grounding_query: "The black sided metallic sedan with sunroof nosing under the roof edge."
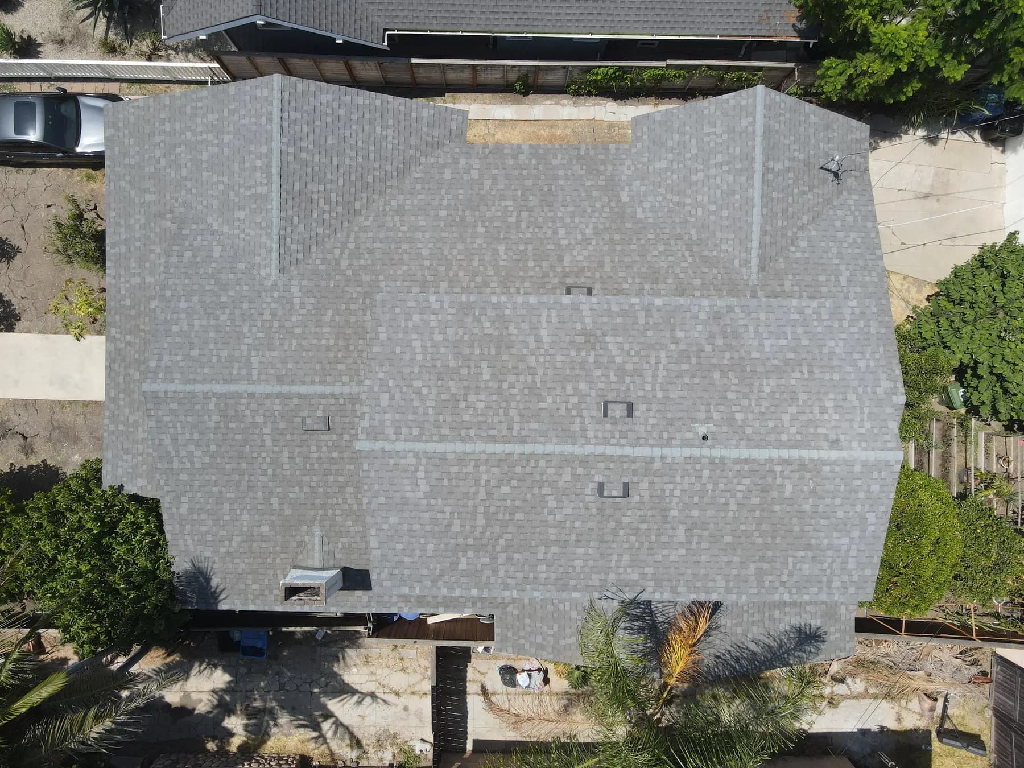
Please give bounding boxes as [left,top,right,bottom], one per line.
[0,81,122,163]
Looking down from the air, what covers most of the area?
buildings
